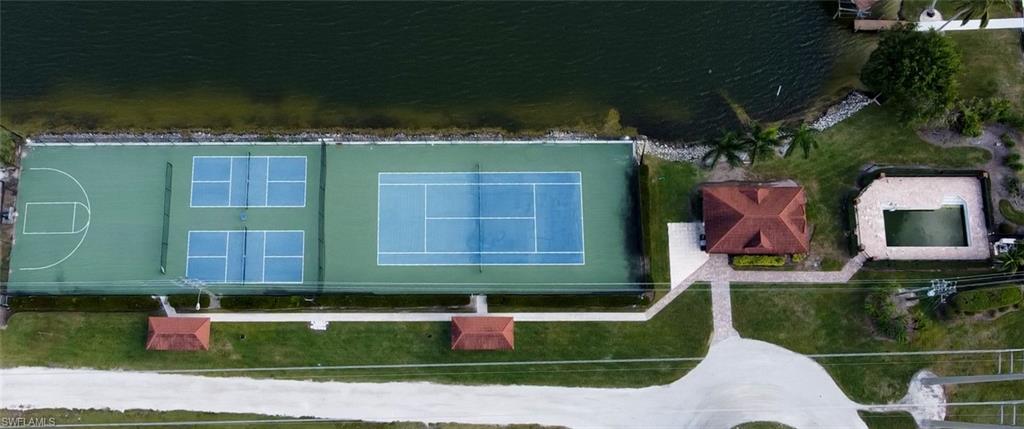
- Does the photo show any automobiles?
No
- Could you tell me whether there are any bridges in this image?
No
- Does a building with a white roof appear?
No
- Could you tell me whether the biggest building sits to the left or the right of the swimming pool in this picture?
on its left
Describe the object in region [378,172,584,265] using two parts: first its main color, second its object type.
blue tennis court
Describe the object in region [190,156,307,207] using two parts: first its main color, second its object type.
blue sports court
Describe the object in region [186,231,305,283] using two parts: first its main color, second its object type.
blue sports court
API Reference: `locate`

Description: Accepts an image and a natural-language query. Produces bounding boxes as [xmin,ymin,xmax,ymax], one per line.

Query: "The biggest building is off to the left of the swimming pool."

[697,183,810,252]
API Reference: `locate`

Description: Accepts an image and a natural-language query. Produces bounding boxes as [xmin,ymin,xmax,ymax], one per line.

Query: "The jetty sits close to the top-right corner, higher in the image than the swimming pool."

[854,19,904,33]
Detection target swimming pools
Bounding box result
[860,177,990,259]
